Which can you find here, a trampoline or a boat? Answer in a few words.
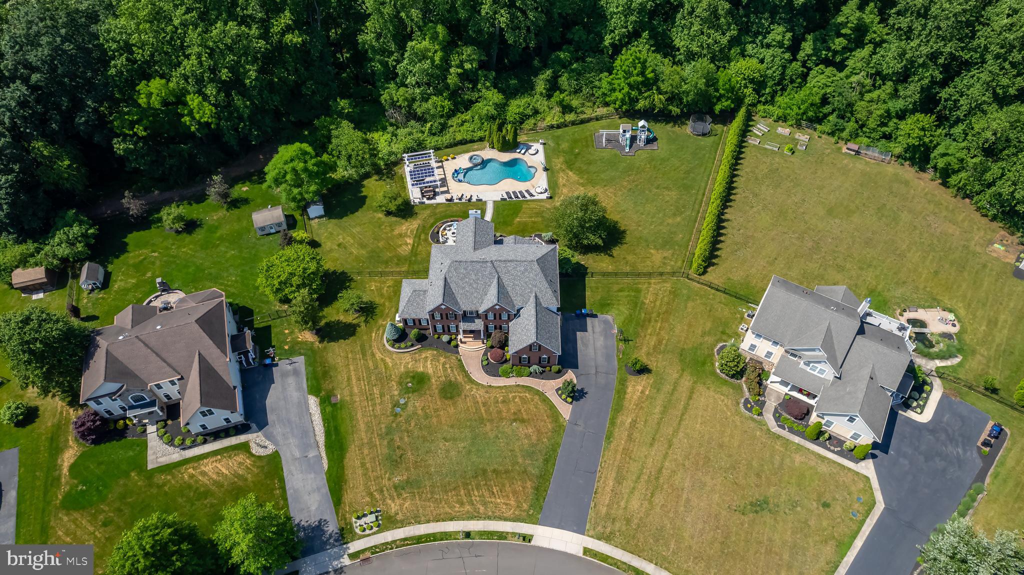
trampoline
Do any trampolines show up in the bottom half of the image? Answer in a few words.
No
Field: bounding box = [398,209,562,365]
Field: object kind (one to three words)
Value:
house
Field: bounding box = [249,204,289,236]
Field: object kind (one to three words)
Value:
shed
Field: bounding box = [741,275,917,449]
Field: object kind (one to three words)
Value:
house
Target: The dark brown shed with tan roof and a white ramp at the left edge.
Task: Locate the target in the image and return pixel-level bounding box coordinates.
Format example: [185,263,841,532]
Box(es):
[11,262,61,300]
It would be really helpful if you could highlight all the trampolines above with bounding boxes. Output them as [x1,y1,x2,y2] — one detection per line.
[690,113,715,139]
